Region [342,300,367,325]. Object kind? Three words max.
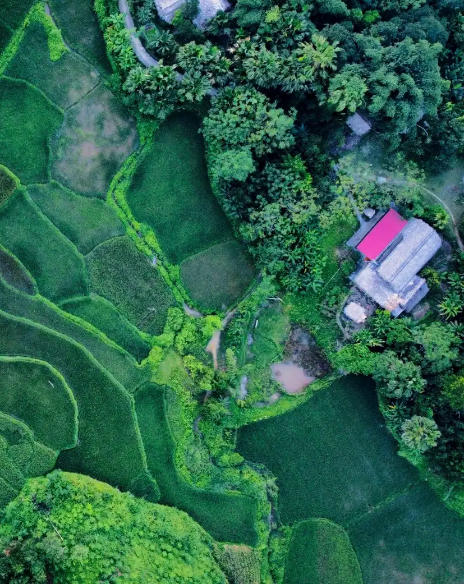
shed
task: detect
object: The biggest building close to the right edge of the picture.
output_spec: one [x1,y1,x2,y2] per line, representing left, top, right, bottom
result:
[350,217,443,319]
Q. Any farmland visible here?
Yes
